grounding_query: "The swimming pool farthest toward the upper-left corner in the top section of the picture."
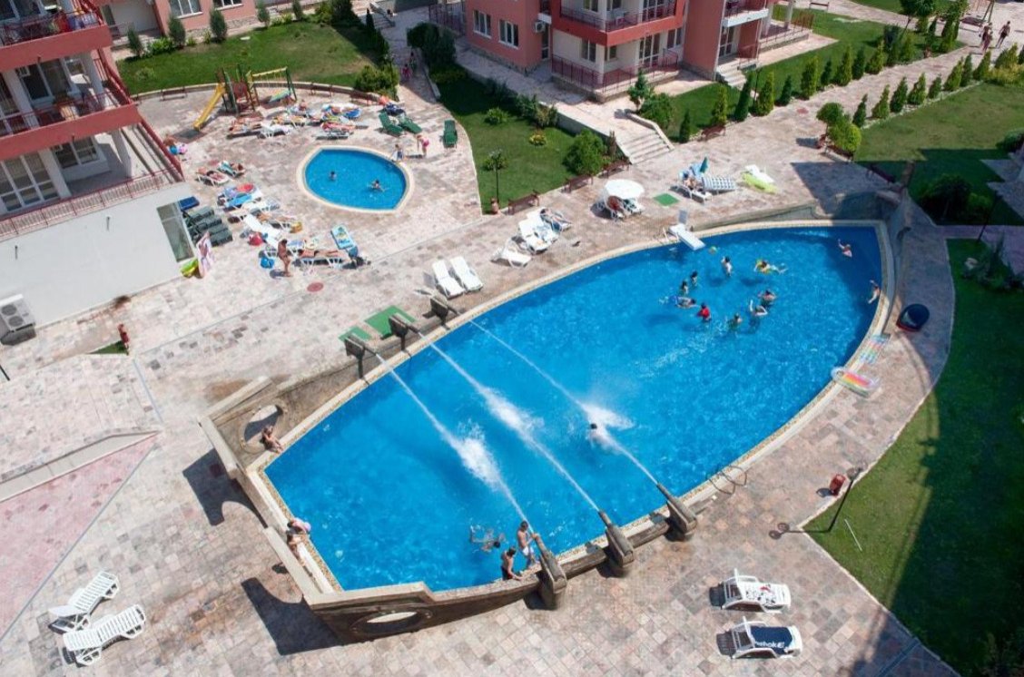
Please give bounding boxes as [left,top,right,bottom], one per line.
[304,150,405,208]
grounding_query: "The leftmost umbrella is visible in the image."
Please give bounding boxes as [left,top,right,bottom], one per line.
[606,177,648,203]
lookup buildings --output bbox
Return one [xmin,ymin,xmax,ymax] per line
[0,0,214,347]
[460,0,813,102]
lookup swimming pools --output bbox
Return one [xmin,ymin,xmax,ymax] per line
[304,150,405,208]
[267,228,880,616]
